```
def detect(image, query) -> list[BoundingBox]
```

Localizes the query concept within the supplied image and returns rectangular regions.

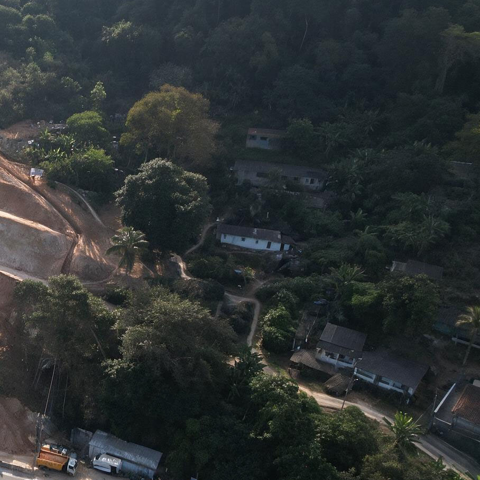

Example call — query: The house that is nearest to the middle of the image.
[217,224,287,252]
